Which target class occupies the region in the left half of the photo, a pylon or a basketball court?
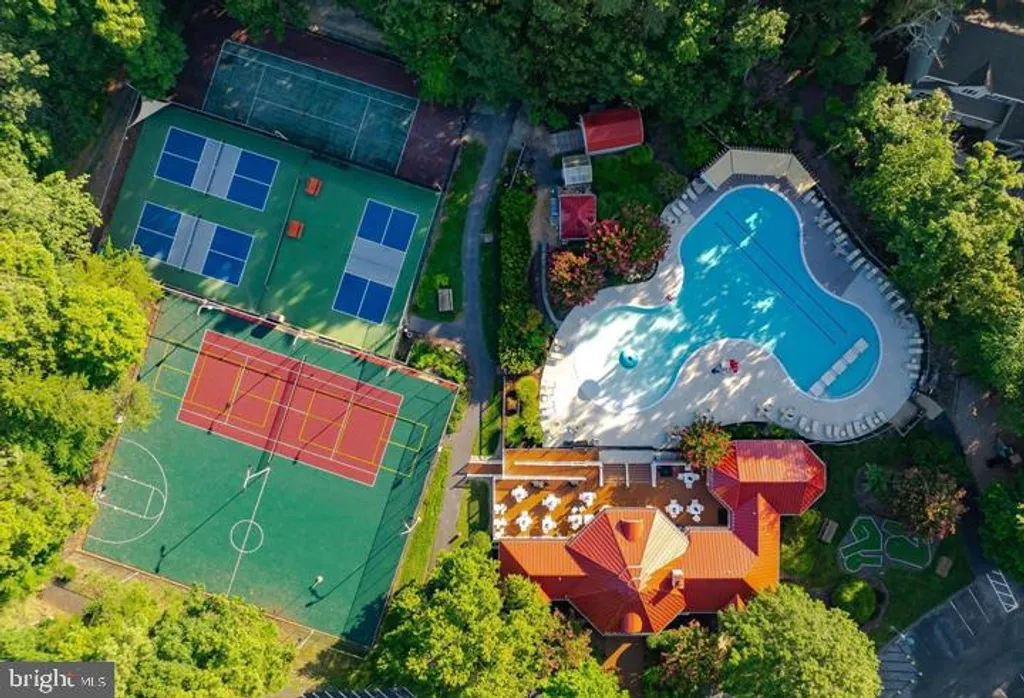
basketball court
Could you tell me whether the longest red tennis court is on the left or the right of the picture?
left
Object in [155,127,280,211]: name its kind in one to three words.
sports court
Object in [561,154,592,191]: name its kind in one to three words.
greenhouse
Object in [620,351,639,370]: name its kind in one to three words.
fountain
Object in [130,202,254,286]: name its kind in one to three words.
sports court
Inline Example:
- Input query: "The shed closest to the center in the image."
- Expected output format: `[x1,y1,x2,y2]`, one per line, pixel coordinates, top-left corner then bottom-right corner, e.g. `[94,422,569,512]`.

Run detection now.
[559,194,598,242]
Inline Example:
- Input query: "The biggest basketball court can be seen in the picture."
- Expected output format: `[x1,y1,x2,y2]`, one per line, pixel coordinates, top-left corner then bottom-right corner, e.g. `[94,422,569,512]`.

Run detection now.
[82,291,458,649]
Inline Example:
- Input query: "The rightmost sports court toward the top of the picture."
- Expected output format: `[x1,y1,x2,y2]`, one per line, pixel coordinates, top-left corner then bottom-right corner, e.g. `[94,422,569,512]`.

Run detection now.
[332,198,419,326]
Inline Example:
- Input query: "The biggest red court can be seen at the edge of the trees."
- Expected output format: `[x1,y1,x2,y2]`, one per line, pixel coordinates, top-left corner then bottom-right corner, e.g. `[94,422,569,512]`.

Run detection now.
[176,330,404,486]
